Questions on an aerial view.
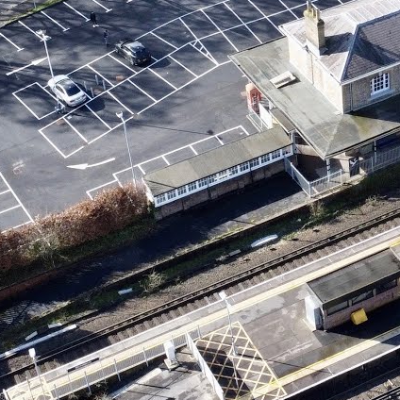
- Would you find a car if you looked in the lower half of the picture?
No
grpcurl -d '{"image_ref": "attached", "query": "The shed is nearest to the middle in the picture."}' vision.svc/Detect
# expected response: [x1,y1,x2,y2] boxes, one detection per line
[137,101,293,218]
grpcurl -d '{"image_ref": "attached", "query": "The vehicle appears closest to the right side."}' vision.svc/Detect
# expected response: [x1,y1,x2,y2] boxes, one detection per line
[111,40,153,70]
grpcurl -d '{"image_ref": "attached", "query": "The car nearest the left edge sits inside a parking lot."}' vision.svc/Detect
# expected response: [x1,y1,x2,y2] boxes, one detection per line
[40,77,92,110]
